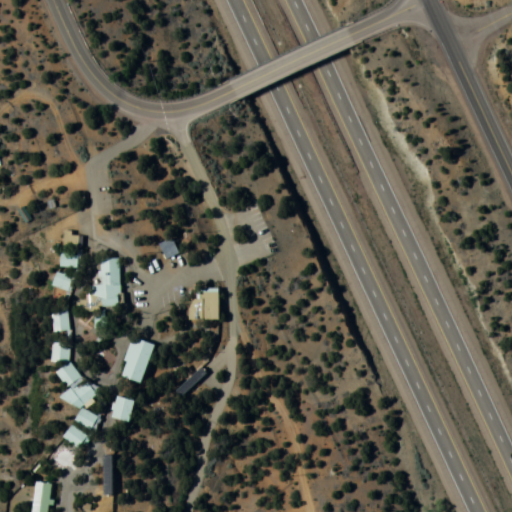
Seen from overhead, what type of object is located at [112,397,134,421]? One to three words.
house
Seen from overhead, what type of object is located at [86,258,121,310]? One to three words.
house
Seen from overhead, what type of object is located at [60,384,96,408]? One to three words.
building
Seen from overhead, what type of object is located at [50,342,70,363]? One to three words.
building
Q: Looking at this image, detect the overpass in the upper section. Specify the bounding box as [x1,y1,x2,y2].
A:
[229,24,358,98]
